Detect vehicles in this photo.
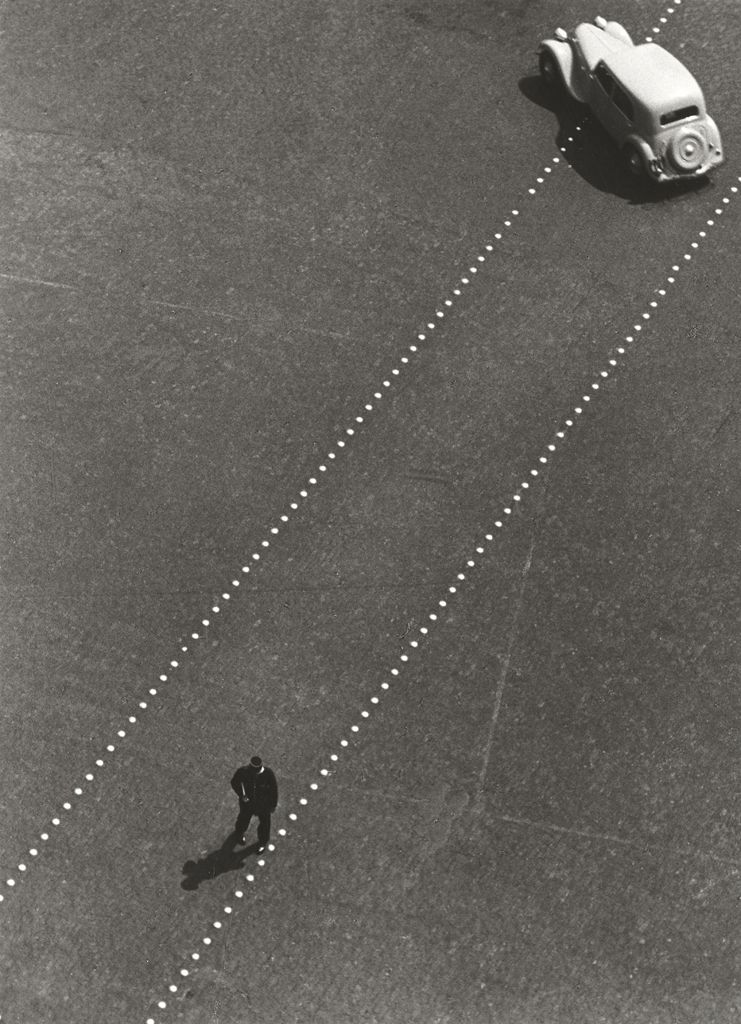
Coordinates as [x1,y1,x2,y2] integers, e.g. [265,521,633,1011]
[537,14,724,184]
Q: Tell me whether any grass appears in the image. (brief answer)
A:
No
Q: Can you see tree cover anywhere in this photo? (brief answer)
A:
No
